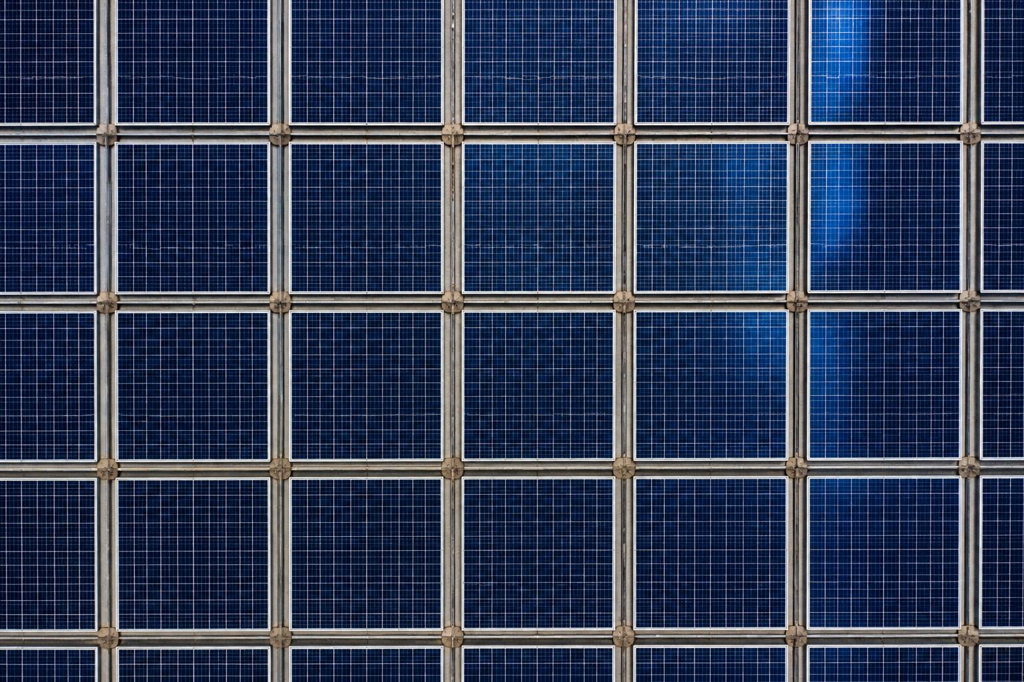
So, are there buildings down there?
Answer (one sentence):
No, no building can be seen from above.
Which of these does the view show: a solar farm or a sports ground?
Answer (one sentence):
This looks like a solar farm.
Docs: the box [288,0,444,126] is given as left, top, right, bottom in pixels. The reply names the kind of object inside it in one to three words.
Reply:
solar panel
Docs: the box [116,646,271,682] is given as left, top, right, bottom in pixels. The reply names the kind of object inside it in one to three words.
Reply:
solar panel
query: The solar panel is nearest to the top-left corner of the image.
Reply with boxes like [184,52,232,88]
[0,0,97,126]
